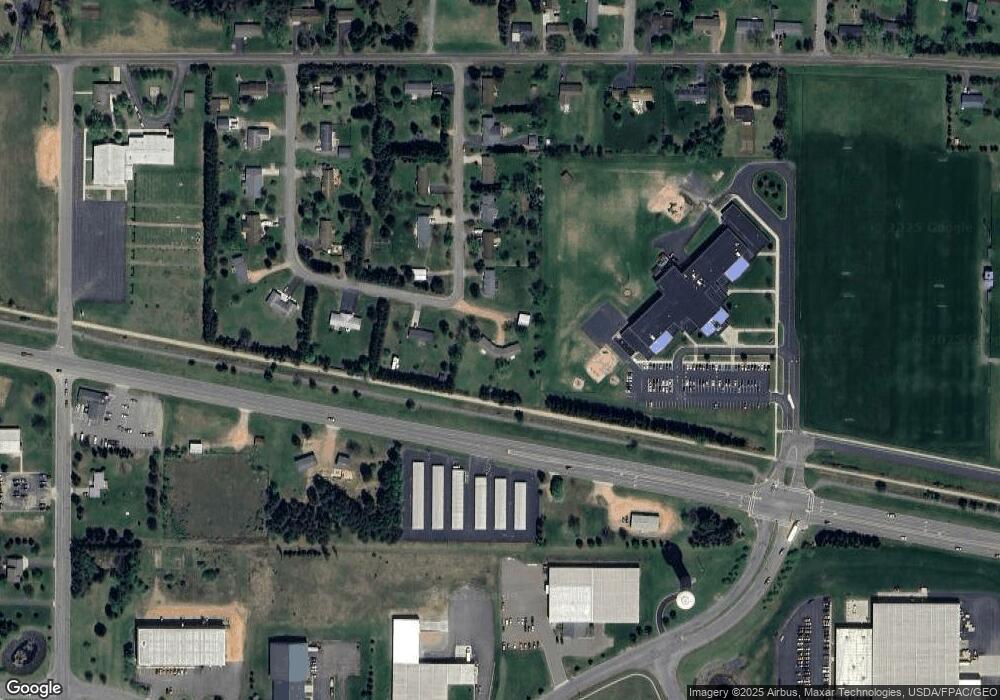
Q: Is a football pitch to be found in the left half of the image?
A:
No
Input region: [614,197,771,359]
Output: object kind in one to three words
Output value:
building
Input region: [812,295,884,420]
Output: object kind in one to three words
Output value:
soccer field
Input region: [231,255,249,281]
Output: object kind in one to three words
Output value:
house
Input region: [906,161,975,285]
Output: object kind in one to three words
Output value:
soccer field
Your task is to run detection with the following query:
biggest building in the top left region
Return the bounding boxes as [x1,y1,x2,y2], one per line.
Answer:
[94,128,174,185]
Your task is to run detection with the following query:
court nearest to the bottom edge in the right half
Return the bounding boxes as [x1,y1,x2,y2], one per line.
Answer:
[582,304,633,370]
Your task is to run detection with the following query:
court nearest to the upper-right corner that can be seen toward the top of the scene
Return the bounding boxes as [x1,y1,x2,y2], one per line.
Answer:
[652,197,711,268]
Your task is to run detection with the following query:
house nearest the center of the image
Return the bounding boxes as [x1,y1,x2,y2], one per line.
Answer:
[479,335,522,357]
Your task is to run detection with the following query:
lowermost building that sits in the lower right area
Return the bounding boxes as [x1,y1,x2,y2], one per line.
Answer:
[836,599,981,700]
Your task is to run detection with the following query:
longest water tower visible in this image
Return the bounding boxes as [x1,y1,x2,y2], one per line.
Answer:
[678,573,696,610]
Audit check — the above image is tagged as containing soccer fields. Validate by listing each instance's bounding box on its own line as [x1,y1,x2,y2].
[906,306,975,432]
[812,295,884,420]
[812,148,884,273]
[906,161,975,285]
